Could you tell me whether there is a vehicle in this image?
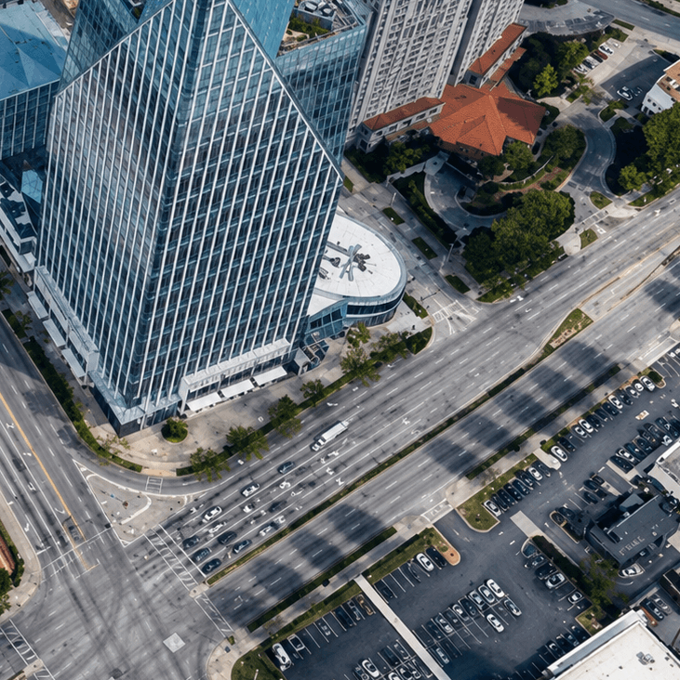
Yes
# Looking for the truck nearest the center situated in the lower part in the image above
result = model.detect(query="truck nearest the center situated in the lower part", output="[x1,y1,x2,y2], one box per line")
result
[311,413,352,450]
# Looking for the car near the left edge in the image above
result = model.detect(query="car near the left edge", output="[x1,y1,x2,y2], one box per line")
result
[10,454,27,476]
